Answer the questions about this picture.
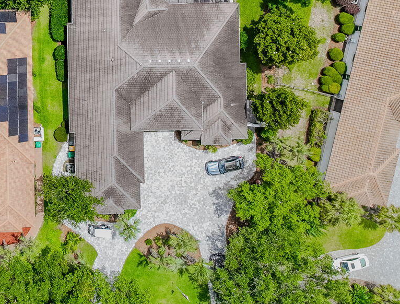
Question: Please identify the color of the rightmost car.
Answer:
white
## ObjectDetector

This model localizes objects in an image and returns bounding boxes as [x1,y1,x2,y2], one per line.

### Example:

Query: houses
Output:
[65,0,248,215]
[0,9,36,233]
[313,0,400,207]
